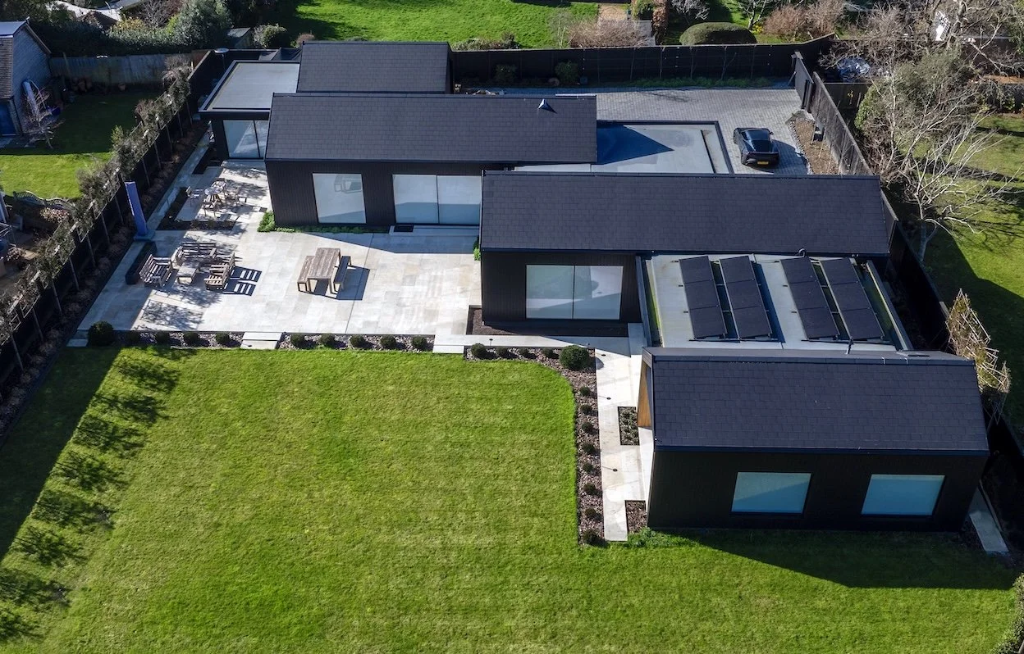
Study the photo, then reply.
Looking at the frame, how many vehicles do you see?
1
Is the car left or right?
right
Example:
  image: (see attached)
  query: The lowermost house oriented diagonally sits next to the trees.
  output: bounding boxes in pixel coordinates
[199,41,990,534]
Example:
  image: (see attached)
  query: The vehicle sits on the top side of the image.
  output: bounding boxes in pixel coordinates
[732,121,782,165]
